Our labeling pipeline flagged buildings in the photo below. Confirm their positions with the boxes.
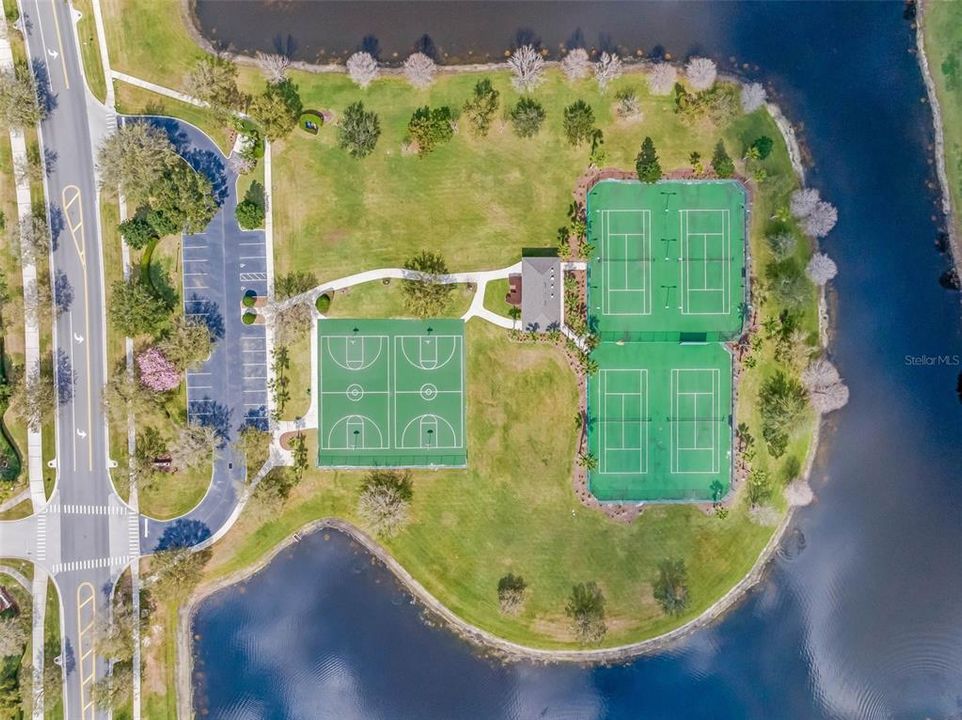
[522,257,561,332]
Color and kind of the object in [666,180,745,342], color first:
green tennis court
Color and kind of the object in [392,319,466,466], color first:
green basketball court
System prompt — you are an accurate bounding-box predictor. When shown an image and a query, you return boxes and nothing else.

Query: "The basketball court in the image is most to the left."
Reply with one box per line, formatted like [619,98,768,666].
[318,319,392,466]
